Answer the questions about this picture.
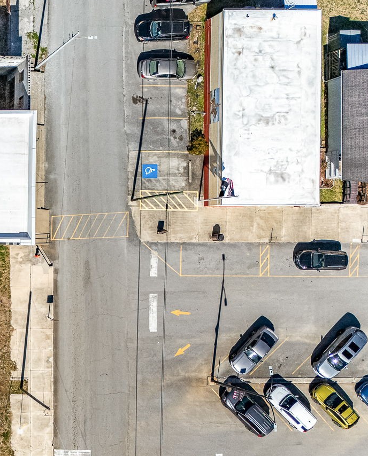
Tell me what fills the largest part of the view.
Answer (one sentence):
What you mostly see from above here is paved ground.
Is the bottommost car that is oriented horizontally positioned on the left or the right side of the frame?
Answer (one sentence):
The bottommost car that is oriented horizontally appears in the right half of the scene.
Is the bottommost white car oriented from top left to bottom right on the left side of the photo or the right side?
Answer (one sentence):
It is on the right.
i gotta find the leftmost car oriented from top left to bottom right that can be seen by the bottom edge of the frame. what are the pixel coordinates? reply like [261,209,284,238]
[216,381,275,437]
